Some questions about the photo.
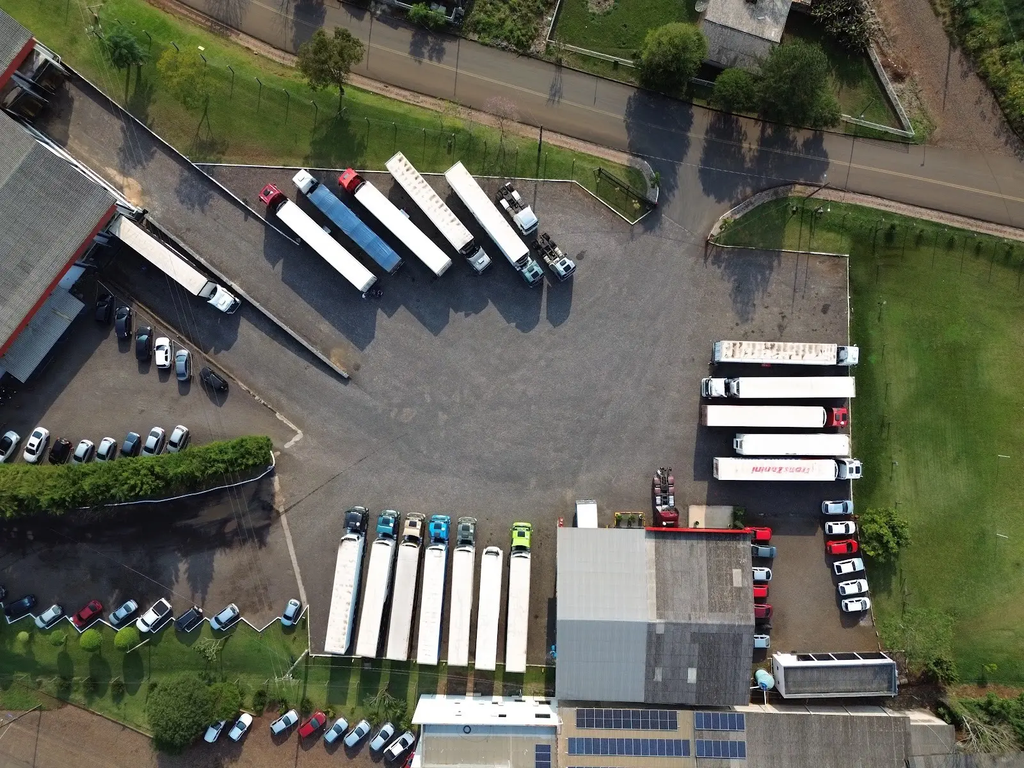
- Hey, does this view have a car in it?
Yes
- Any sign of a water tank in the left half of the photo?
No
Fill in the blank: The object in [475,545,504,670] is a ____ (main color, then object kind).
white trailer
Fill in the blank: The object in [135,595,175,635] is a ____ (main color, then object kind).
white truck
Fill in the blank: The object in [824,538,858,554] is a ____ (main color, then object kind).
red car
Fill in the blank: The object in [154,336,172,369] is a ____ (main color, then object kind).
white car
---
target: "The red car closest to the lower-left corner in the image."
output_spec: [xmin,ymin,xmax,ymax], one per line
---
[69,596,107,629]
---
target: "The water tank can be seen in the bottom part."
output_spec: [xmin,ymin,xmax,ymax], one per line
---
[751,659,776,692]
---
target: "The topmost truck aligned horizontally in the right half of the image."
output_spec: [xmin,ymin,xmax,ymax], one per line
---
[713,339,857,368]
